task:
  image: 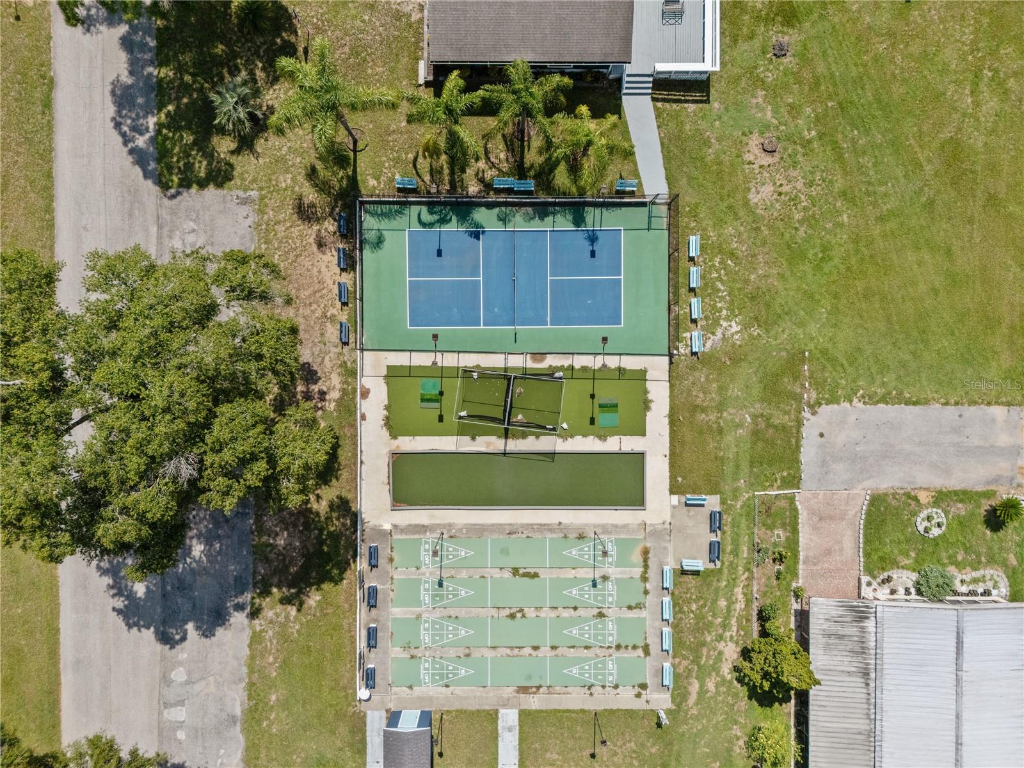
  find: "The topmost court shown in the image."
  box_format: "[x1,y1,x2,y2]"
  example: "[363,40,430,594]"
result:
[362,203,670,354]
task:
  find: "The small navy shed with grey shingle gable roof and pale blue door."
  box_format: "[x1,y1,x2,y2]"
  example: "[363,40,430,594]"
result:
[384,710,432,768]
